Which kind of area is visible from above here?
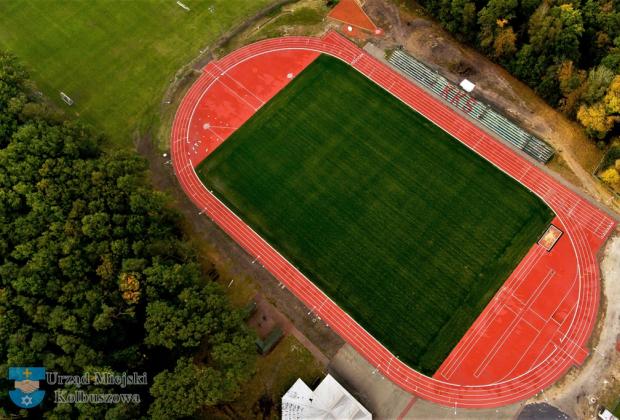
sports ground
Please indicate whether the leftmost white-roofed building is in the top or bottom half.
bottom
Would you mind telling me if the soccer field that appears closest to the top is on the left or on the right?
left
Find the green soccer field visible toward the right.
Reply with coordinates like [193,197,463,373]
[194,53,556,377]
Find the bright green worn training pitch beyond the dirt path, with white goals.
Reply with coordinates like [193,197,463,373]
[0,0,257,126]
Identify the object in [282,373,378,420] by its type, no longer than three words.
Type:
building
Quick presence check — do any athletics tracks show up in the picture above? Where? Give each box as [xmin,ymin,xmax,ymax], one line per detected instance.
[170,29,616,410]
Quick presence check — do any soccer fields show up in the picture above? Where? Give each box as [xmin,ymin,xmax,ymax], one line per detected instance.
[0,0,257,126]
[194,53,556,377]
